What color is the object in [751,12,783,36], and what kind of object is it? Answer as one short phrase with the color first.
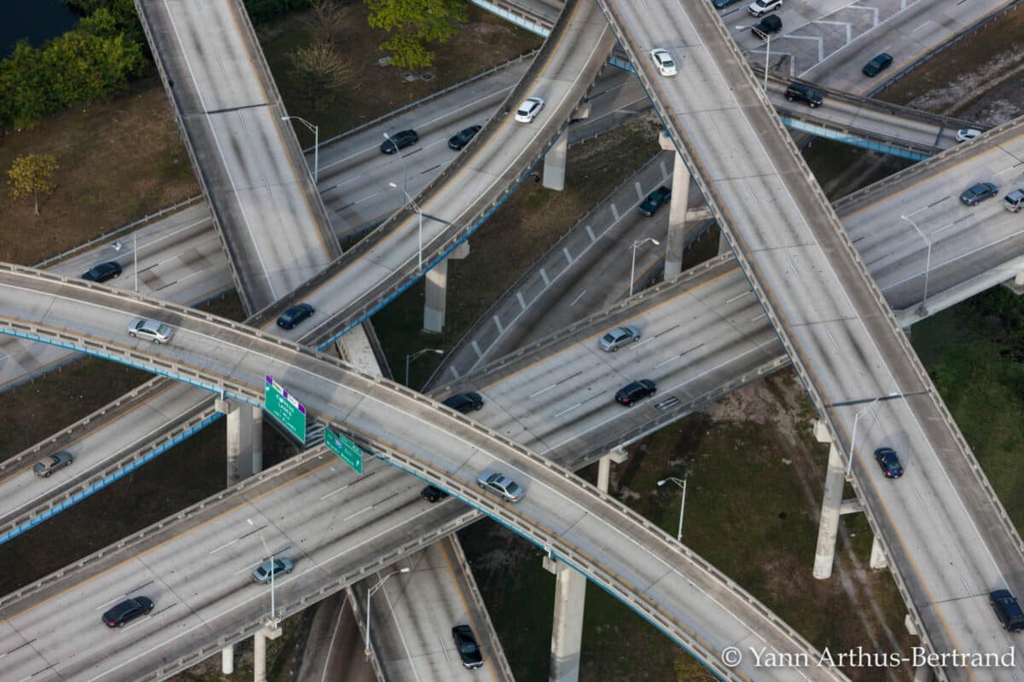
black car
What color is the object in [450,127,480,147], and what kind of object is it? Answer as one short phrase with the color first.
black car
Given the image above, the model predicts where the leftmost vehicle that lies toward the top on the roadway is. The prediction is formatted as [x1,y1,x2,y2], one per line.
[83,261,120,282]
